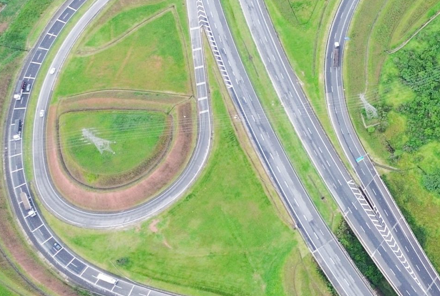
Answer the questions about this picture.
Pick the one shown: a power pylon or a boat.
power pylon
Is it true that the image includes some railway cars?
No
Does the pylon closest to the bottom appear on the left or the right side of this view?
left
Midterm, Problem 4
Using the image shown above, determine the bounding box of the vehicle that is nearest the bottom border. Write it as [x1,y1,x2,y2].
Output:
[95,272,118,284]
